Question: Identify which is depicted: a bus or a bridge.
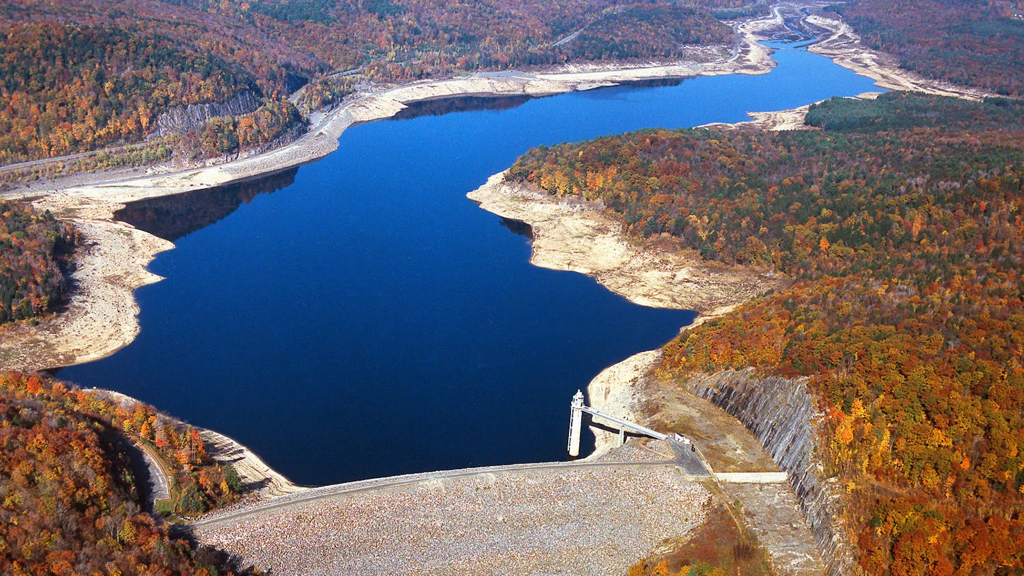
bridge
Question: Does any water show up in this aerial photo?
Yes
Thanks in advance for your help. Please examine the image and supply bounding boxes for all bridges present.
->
[581,412,671,454]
